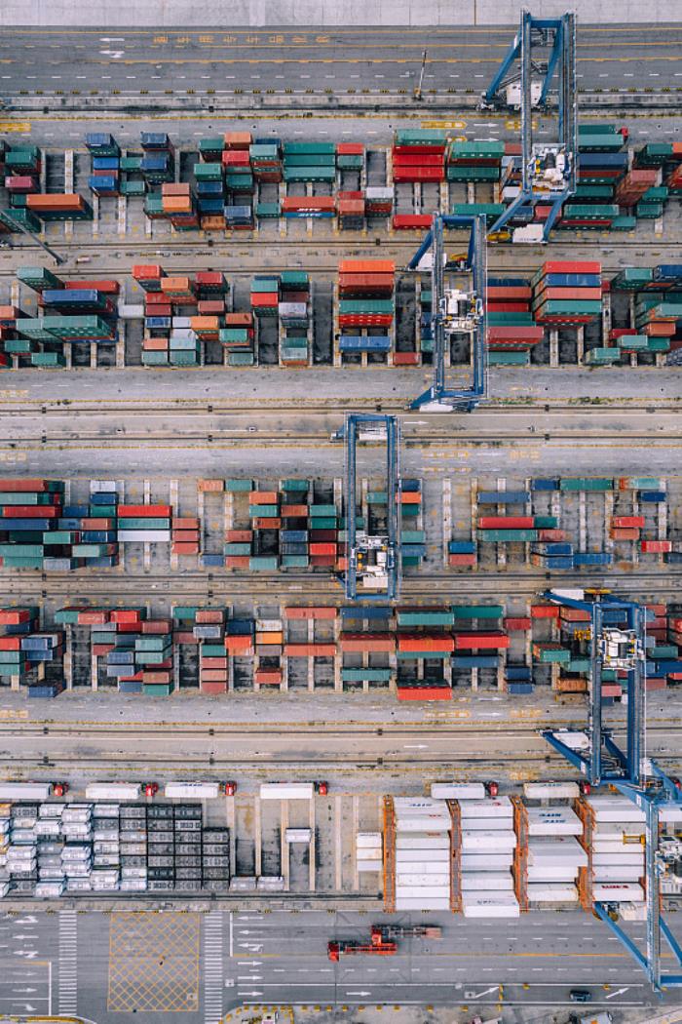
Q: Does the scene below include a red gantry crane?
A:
No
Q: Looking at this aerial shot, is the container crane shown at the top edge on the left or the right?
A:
right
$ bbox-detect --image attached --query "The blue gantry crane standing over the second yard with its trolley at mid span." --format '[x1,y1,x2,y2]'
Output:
[398,211,487,413]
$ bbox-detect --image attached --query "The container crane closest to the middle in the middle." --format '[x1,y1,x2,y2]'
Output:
[326,413,408,600]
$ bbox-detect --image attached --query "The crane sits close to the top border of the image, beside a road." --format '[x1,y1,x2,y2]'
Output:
[473,14,576,253]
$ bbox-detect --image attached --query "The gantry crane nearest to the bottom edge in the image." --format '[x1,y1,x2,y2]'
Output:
[578,758,682,987]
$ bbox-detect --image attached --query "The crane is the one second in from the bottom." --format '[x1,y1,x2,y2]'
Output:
[530,579,644,786]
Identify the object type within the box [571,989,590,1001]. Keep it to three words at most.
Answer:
vehicle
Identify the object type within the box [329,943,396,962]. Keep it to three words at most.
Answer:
vehicle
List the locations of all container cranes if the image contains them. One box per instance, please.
[326,413,408,600]
[398,211,487,413]
[473,14,576,253]
[578,758,682,987]
[530,579,644,786]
